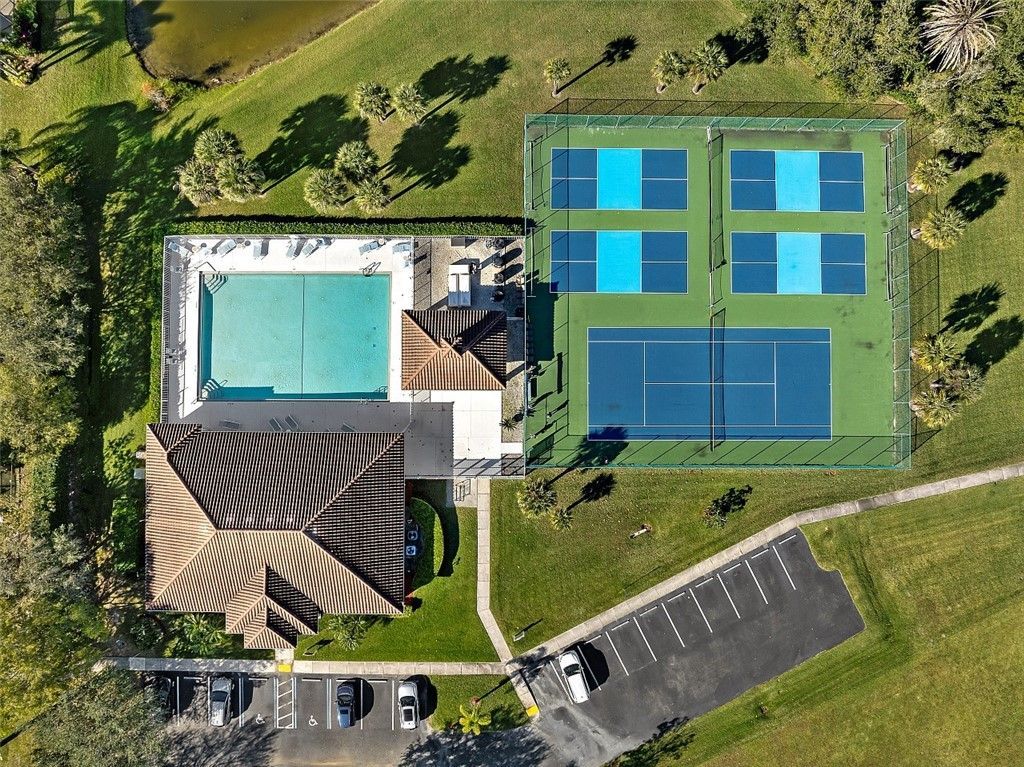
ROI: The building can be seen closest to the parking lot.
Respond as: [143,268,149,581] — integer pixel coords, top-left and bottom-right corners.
[142,422,405,650]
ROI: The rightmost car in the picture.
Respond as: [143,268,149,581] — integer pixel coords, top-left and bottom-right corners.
[560,649,590,705]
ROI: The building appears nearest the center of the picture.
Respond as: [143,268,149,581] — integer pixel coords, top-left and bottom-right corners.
[400,308,508,391]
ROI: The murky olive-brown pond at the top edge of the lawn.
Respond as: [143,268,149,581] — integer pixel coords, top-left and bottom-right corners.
[131,0,379,84]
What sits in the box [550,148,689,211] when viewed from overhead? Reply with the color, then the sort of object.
blue sports court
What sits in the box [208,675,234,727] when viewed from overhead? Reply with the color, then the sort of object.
gray car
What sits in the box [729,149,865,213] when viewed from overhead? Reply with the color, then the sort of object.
blue sports court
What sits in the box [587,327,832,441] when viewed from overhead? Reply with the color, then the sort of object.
blue tennis court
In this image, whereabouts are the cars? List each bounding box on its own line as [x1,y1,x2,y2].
[560,649,590,705]
[208,675,234,727]
[149,672,175,722]
[334,680,356,728]
[396,678,420,730]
